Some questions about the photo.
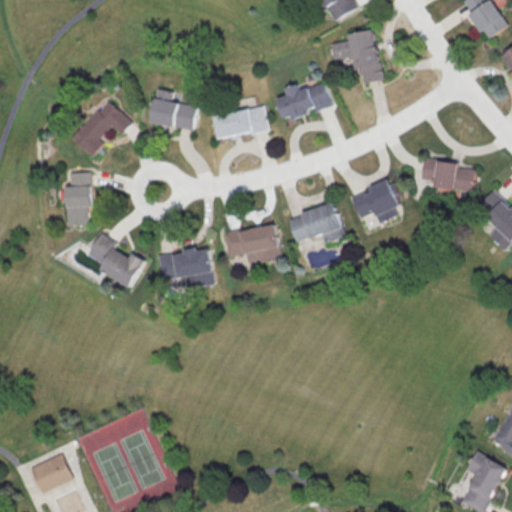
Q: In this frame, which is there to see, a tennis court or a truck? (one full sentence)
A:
Of the two, only a tennis court appears.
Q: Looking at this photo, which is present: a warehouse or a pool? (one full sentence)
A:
I can see a pool in this picture.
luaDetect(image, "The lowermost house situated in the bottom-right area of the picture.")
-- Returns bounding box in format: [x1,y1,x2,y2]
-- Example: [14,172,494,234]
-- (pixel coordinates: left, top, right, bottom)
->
[463,450,508,512]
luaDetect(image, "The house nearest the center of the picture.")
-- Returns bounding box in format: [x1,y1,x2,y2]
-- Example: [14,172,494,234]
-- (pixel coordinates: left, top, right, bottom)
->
[226,225,281,264]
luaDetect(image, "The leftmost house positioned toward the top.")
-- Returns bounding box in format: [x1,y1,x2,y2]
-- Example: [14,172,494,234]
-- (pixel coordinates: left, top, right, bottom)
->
[62,172,94,227]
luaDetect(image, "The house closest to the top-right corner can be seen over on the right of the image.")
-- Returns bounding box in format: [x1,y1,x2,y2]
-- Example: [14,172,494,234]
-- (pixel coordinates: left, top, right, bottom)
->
[465,0,508,38]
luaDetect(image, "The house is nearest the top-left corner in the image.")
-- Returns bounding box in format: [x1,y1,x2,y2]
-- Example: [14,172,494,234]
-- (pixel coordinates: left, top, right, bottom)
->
[75,102,132,156]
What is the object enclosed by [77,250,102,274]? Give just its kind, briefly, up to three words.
swimming pool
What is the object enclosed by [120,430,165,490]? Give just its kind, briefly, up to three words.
tennis court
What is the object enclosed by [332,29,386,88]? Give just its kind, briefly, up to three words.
house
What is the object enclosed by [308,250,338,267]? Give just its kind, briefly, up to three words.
swimming pool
